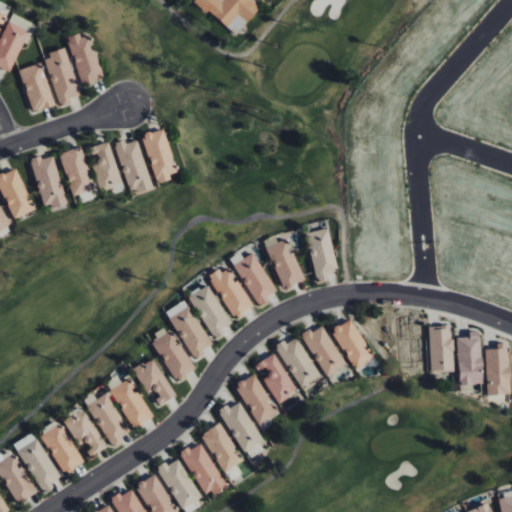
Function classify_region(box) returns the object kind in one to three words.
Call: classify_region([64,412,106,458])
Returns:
house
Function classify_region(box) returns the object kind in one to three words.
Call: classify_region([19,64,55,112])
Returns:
house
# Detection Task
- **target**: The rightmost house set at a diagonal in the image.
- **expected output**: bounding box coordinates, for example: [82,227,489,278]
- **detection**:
[333,318,375,369]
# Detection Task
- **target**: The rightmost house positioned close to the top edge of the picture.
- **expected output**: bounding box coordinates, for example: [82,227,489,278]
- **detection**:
[194,0,264,34]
